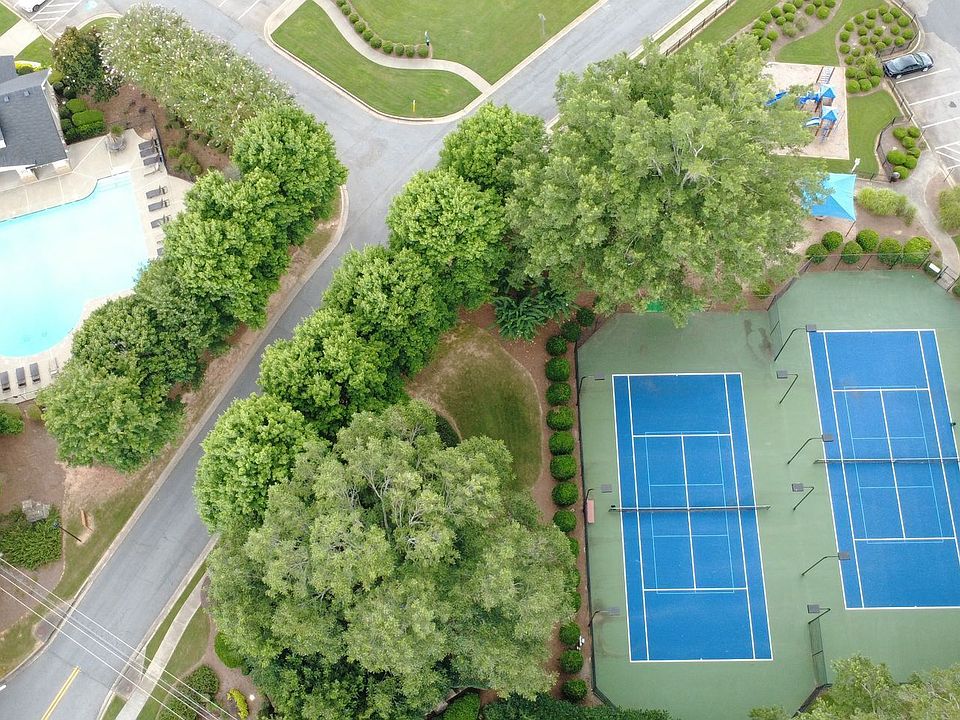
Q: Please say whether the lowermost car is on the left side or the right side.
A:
right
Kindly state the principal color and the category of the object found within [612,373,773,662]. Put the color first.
blue tennis court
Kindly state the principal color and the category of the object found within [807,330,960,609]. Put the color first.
blue tennis court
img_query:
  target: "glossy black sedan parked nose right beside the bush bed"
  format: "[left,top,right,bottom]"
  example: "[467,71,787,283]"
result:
[883,52,936,81]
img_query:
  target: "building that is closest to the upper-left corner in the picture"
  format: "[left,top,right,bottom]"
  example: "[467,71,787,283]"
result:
[0,53,69,178]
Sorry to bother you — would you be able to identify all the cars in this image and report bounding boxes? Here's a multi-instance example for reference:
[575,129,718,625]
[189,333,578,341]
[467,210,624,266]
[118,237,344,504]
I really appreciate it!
[19,0,47,13]
[883,52,936,81]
